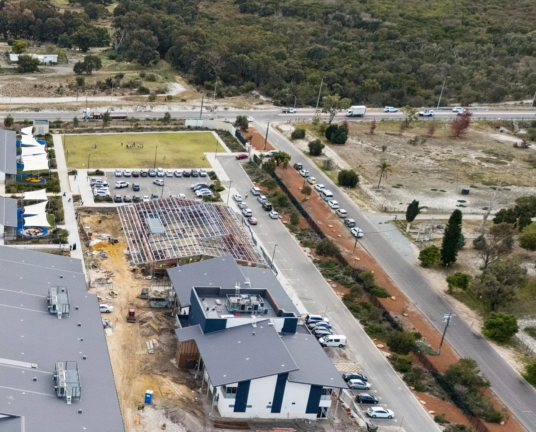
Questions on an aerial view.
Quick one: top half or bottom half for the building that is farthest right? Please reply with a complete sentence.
Seen from above, the building that is farthest right lies in the bottom half of the view.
